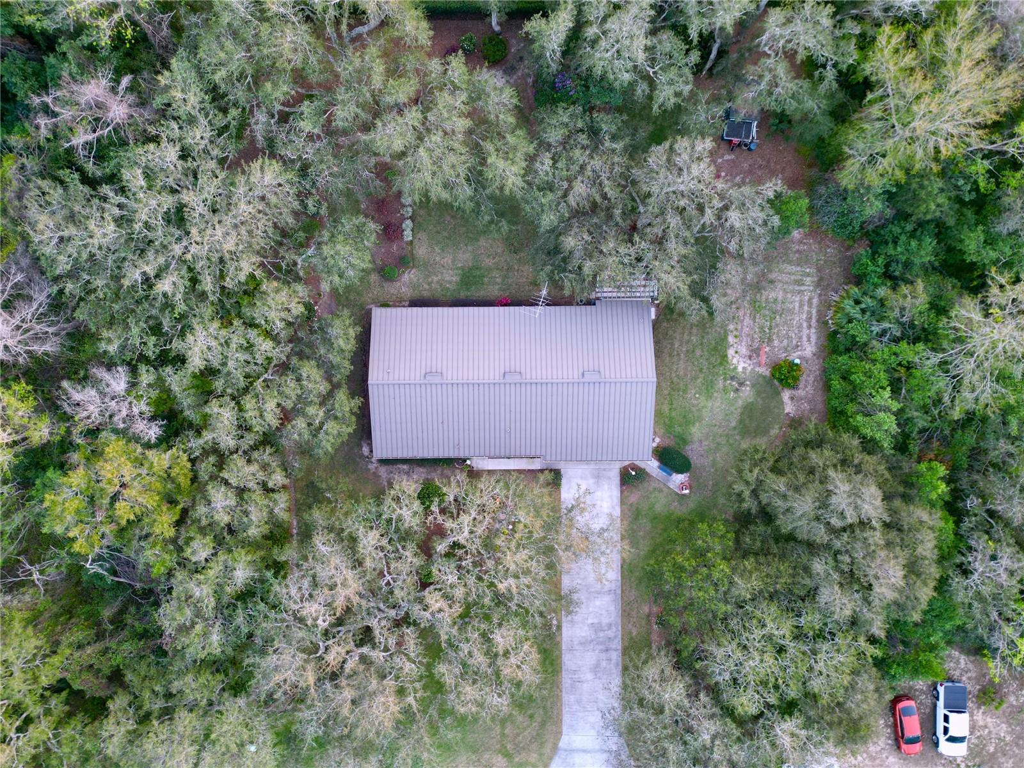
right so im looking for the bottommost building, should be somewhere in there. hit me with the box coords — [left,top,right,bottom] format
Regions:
[367,299,657,464]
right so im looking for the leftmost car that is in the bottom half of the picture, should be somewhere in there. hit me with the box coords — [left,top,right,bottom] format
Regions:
[889,694,925,754]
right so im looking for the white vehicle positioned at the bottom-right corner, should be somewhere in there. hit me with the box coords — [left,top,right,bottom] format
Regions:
[931,676,972,756]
